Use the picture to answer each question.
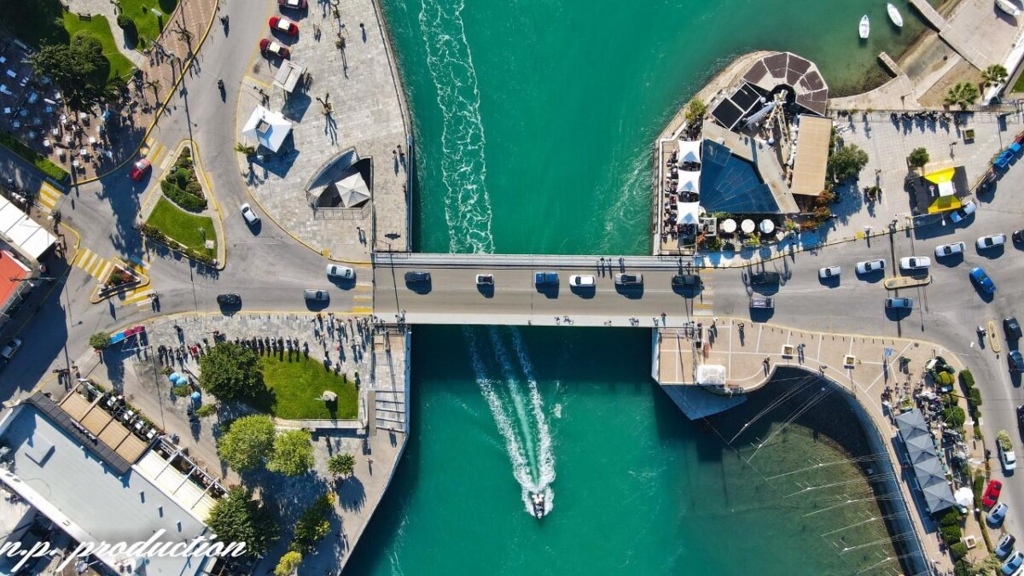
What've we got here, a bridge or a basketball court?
bridge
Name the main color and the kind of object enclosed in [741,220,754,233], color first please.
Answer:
white umbrella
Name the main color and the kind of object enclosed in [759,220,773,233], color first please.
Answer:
white umbrella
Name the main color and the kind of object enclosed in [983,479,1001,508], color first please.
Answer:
red car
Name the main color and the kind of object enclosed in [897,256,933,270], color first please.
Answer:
white vehicle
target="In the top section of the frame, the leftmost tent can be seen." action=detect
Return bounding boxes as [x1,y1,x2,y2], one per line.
[247,107,299,157]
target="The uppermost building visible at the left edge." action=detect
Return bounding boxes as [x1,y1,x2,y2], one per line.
[0,236,65,360]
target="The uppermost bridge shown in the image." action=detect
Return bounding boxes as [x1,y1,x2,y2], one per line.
[372,253,695,328]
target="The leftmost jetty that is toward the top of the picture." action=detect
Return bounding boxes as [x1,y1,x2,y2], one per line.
[826,52,914,108]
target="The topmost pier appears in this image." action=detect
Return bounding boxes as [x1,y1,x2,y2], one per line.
[903,0,949,35]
